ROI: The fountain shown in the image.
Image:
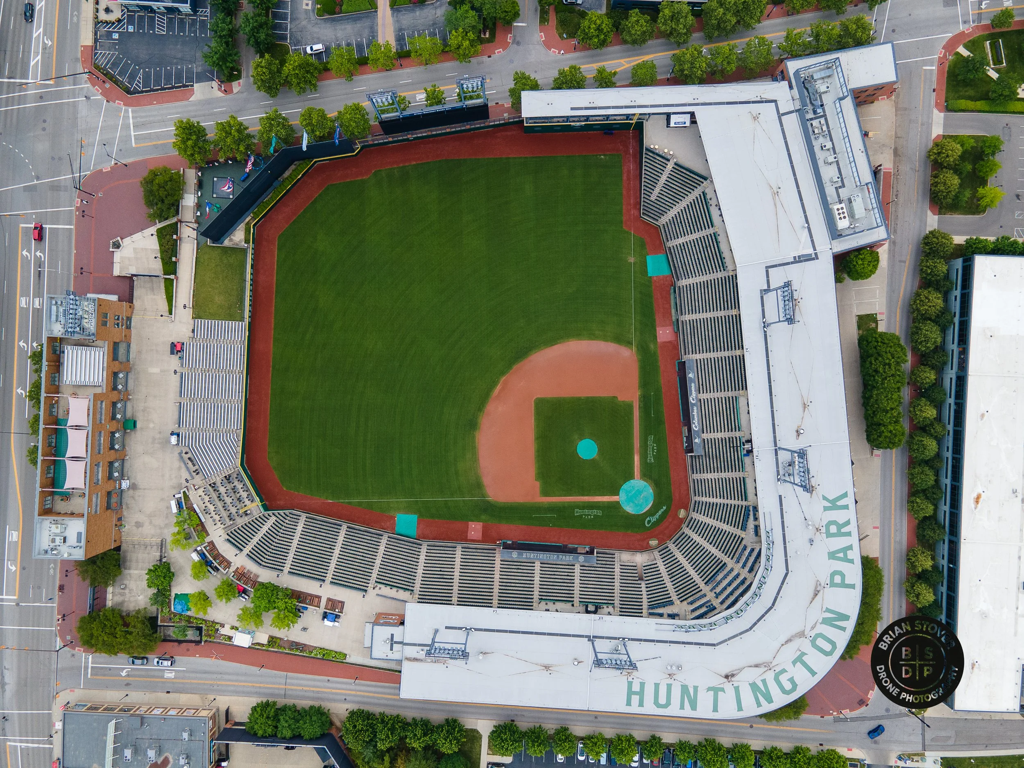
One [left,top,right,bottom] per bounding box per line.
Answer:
[108,235,126,252]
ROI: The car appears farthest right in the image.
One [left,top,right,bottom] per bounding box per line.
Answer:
[866,723,885,739]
